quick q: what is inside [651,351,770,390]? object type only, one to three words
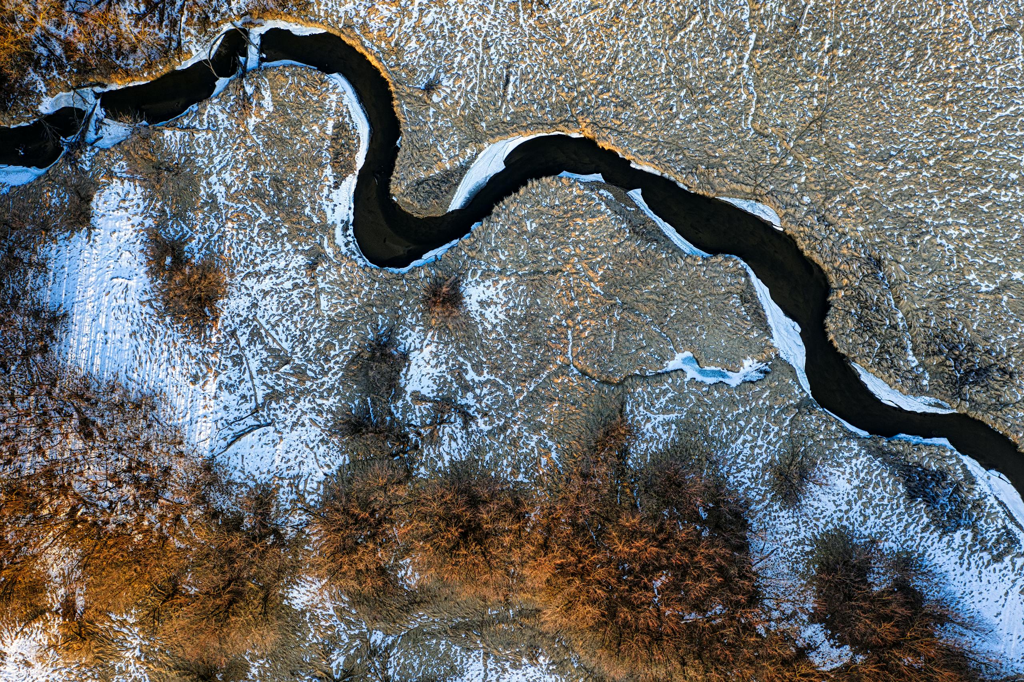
pond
